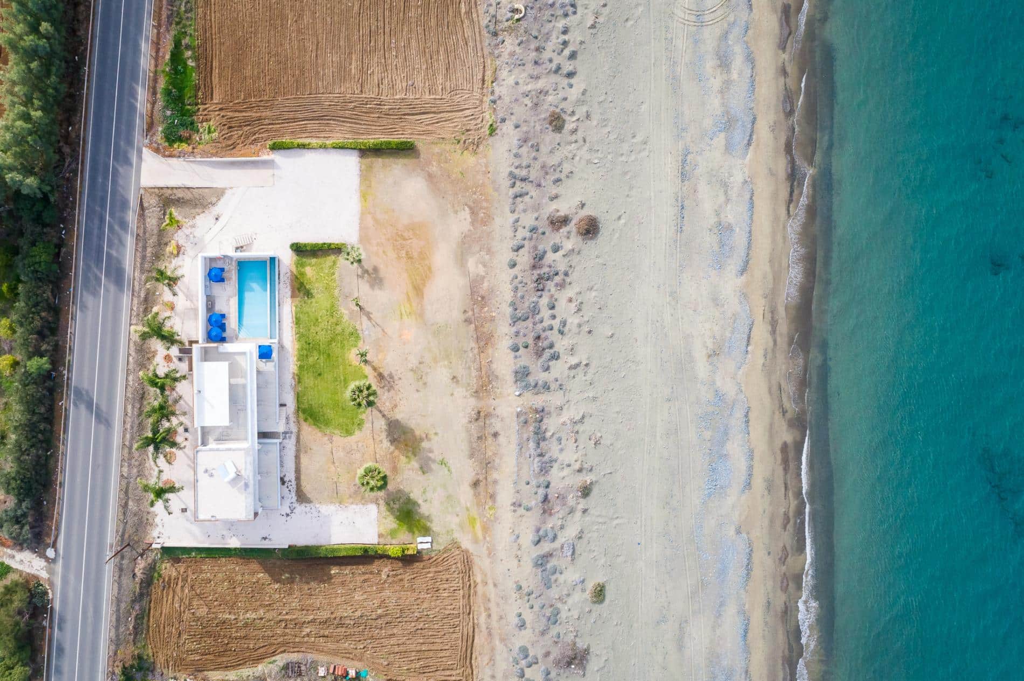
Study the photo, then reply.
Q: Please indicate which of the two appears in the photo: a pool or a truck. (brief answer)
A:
pool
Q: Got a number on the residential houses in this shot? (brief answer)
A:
1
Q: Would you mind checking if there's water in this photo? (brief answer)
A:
Yes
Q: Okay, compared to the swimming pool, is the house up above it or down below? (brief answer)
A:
below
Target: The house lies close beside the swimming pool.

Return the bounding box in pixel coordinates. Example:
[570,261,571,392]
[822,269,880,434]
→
[174,340,292,521]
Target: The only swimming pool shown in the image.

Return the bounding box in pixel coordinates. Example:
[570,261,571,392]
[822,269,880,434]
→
[199,253,281,345]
